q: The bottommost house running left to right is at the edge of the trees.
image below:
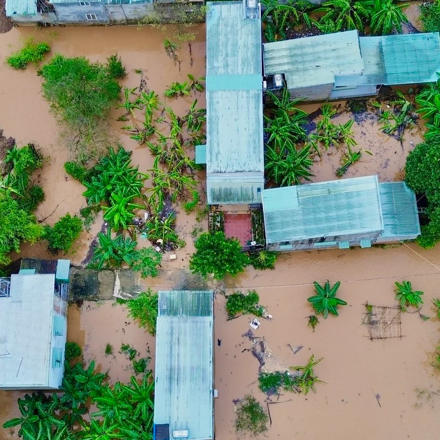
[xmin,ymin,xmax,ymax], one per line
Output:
[261,176,422,255]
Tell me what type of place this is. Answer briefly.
residential area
